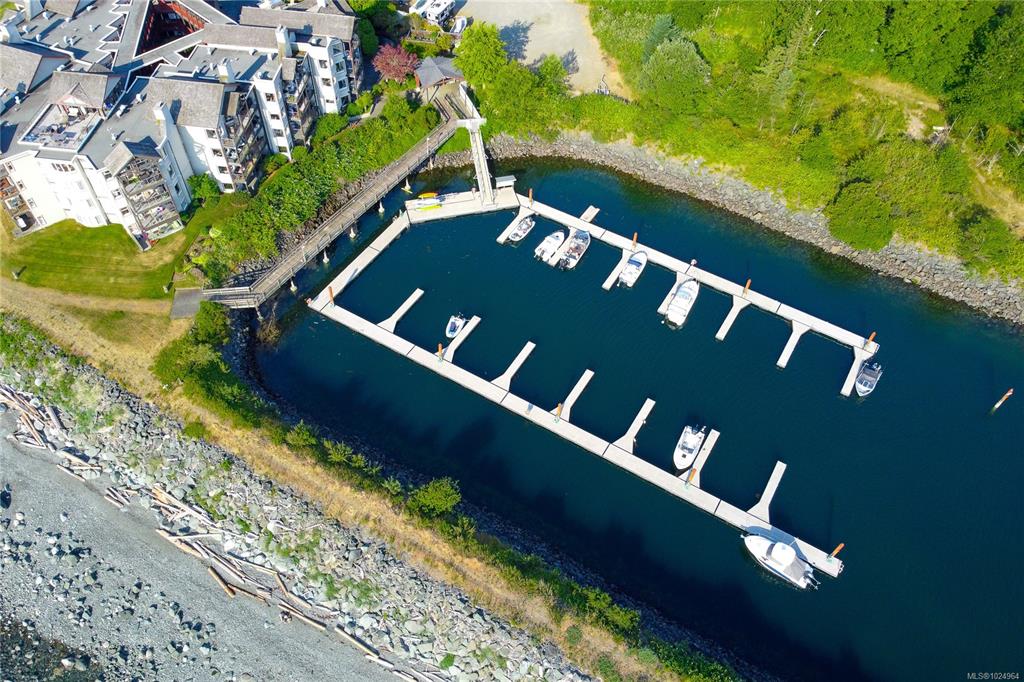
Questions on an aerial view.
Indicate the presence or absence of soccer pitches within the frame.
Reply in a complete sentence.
No, there isn't any soccer pitch down there.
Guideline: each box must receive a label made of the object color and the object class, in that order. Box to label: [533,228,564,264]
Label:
white boat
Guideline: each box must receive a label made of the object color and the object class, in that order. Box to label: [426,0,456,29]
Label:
white vehicle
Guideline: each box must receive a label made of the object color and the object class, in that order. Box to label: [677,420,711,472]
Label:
white boat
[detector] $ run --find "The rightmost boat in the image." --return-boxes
[854,360,884,398]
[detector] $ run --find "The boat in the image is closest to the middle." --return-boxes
[447,310,470,339]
